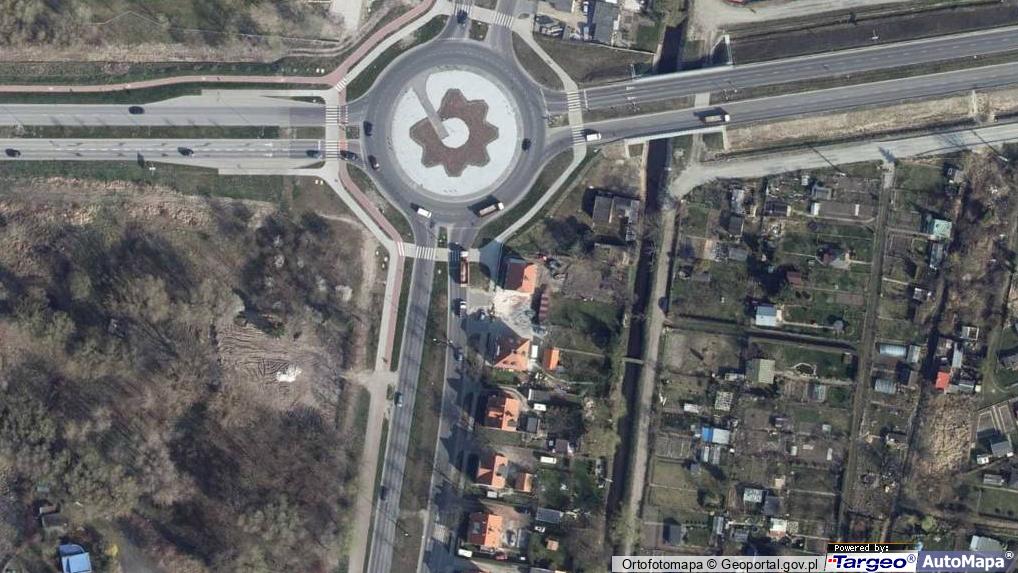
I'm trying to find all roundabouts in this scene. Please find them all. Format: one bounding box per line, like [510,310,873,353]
[359,38,550,228]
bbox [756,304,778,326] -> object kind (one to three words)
shed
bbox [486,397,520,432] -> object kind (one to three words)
house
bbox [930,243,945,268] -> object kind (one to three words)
greenhouse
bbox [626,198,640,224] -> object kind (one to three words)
building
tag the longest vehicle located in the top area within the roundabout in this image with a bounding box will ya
[475,201,505,217]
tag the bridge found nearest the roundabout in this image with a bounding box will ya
[625,31,736,155]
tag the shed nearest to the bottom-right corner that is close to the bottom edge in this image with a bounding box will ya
[971,535,1010,563]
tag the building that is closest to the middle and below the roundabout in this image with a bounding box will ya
[503,256,538,294]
